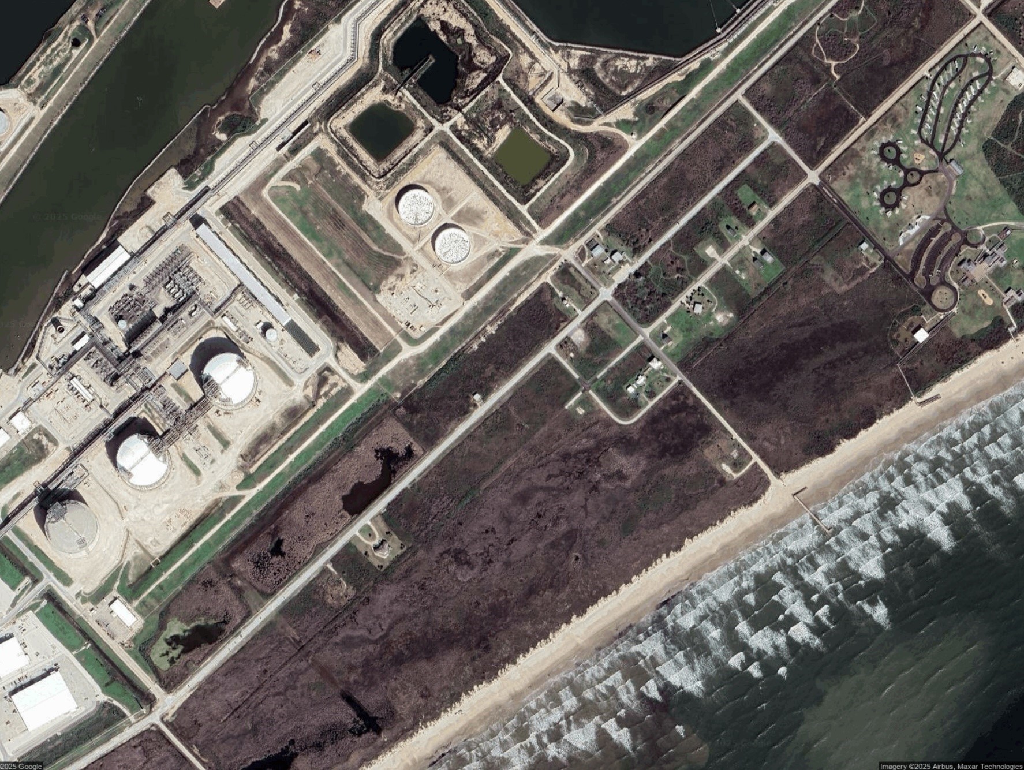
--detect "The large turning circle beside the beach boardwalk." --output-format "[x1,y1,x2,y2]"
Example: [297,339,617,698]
[928,283,958,312]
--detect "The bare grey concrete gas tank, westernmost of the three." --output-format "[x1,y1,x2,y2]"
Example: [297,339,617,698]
[44,501,101,559]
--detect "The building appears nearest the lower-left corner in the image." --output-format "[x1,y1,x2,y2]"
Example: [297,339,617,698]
[11,671,78,733]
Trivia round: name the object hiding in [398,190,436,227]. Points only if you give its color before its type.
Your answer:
white storage tank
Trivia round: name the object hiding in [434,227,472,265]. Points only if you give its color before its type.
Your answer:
white storage tank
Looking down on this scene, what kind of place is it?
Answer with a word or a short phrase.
port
